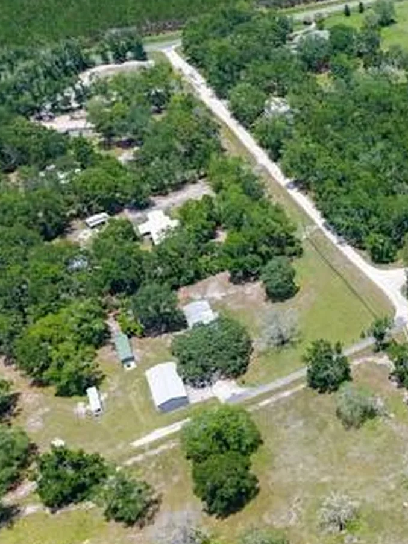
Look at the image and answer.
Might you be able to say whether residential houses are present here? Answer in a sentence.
Yes, the image includes a residential house.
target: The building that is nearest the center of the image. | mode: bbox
[175,294,220,330]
